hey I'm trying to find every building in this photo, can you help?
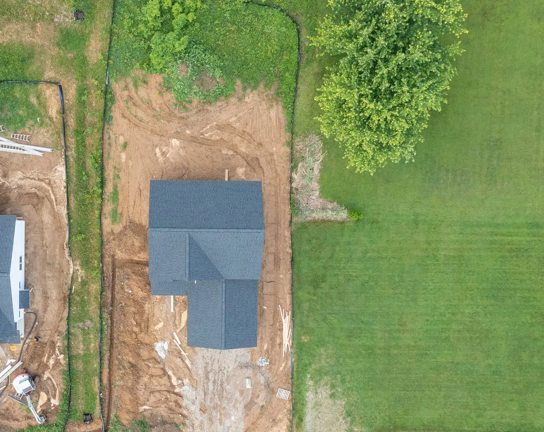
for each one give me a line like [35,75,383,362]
[0,210,32,344]
[148,180,266,349]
